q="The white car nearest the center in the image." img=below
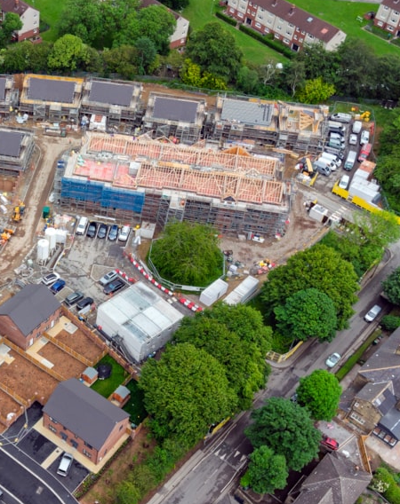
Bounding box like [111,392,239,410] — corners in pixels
[118,224,131,242]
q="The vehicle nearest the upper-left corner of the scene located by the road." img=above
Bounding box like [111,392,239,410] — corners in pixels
[11,201,26,227]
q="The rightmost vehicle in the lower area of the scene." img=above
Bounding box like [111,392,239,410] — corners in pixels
[363,303,383,323]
